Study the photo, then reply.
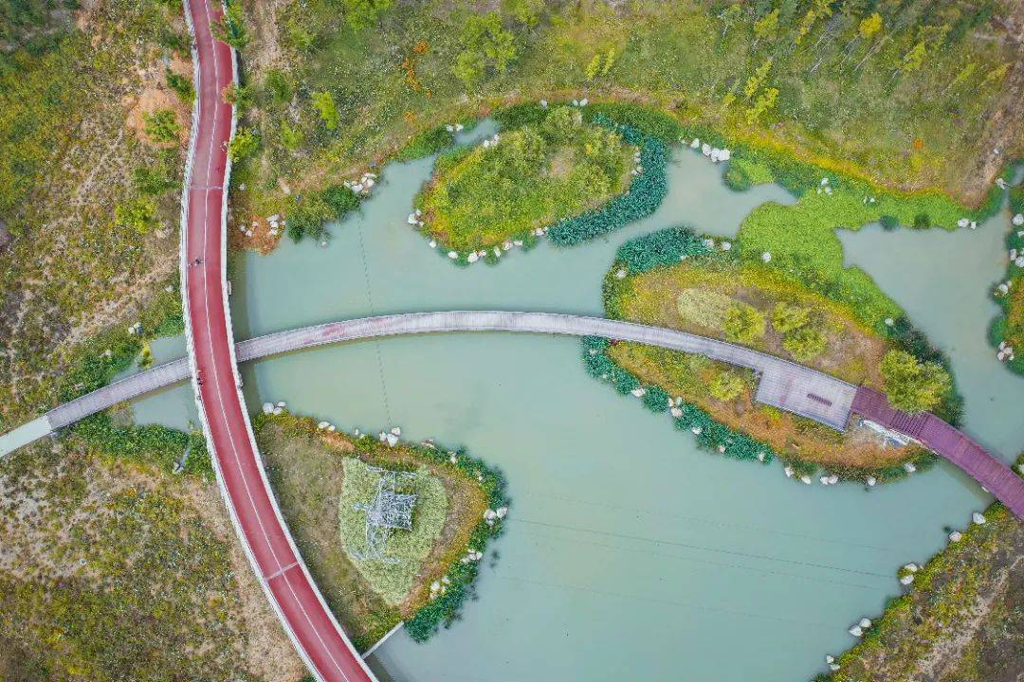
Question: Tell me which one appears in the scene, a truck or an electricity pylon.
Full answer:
This aerial view contains an electricity pylon.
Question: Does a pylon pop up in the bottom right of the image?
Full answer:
No, the scene shows no pylon in the bottom right of the image.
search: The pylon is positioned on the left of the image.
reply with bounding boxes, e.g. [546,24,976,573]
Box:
[352,467,418,563]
